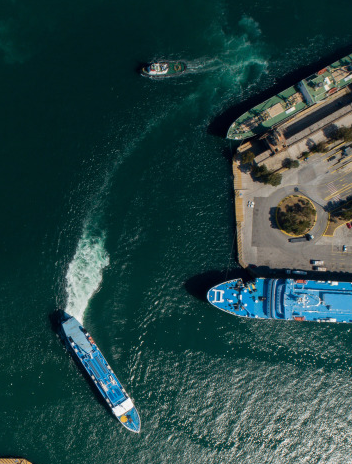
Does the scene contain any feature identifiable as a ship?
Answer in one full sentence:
Yes, the image includes a ship.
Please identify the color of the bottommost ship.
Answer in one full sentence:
From above, the bottommost ship appears blue.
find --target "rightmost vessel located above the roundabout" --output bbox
[227,53,352,139]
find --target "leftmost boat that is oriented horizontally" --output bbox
[140,61,187,77]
